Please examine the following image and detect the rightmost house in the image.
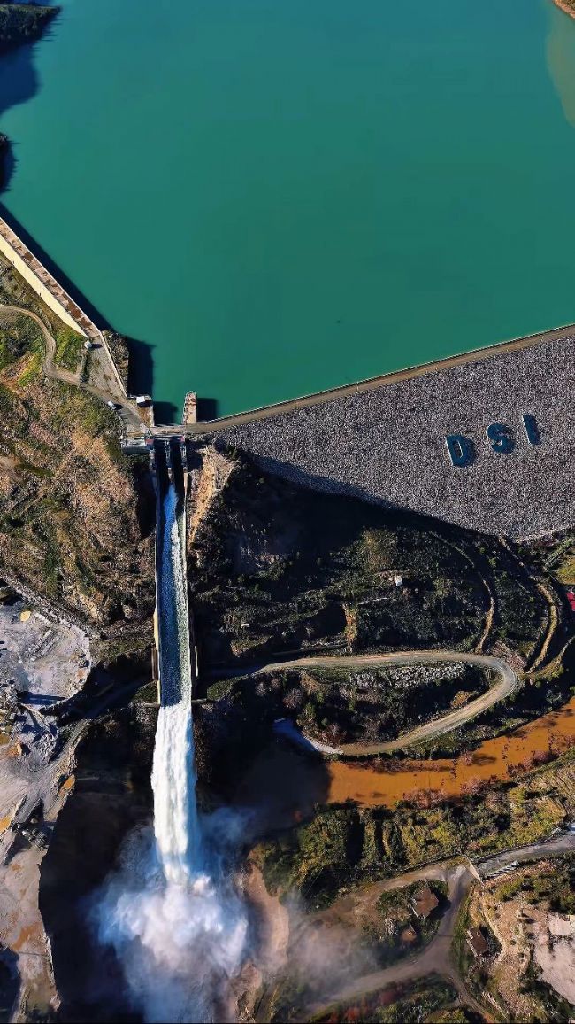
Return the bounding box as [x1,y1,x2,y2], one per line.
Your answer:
[464,925,495,961]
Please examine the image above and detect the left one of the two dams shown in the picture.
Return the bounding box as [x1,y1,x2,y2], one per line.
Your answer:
[0,219,104,339]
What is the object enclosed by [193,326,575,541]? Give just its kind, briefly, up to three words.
dam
